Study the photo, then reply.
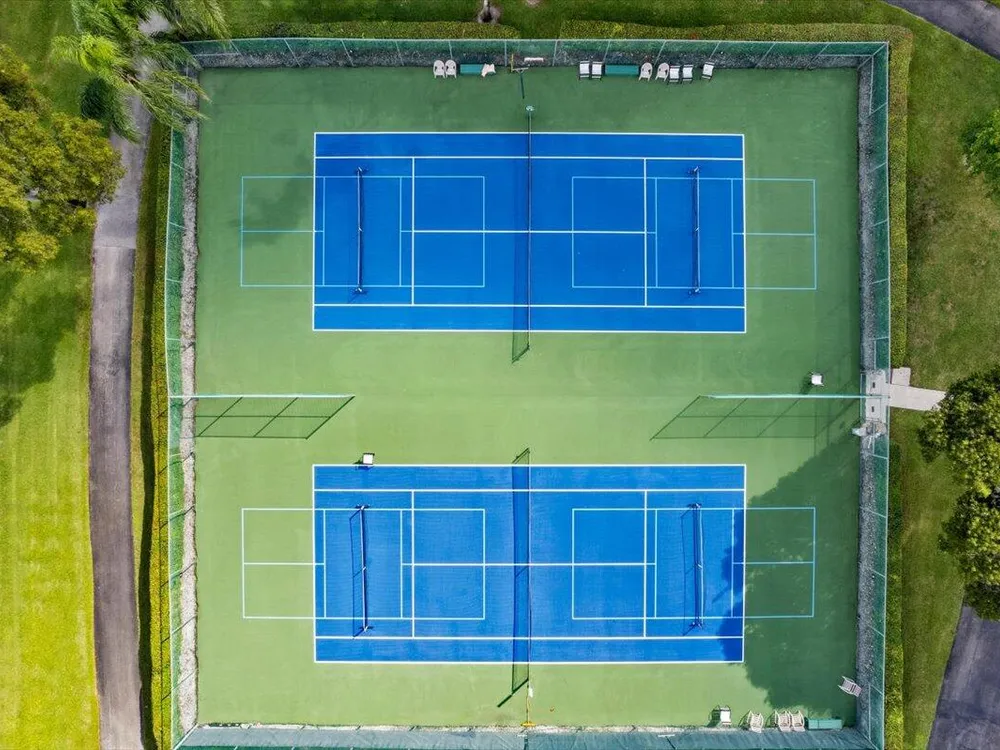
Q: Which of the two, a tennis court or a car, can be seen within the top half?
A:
tennis court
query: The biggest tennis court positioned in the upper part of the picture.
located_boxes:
[312,132,746,333]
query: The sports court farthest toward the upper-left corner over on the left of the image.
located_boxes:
[239,176,485,287]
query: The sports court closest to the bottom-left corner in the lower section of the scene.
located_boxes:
[241,508,485,619]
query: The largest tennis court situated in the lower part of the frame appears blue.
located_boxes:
[313,464,745,663]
